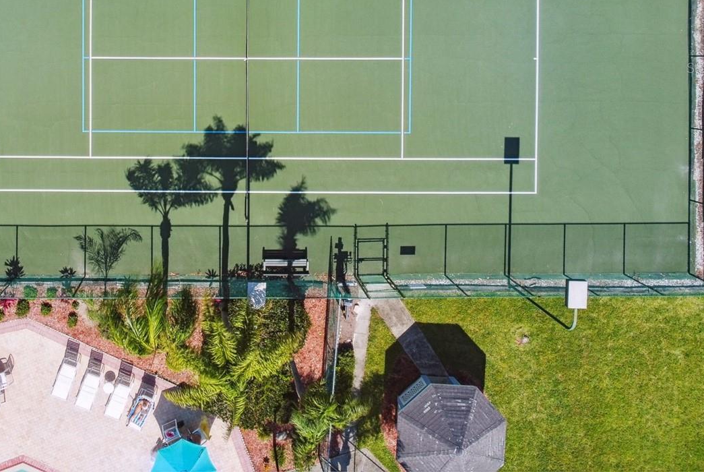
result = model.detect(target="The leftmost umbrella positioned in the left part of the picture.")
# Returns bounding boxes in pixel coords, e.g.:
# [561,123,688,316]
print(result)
[152,438,217,472]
